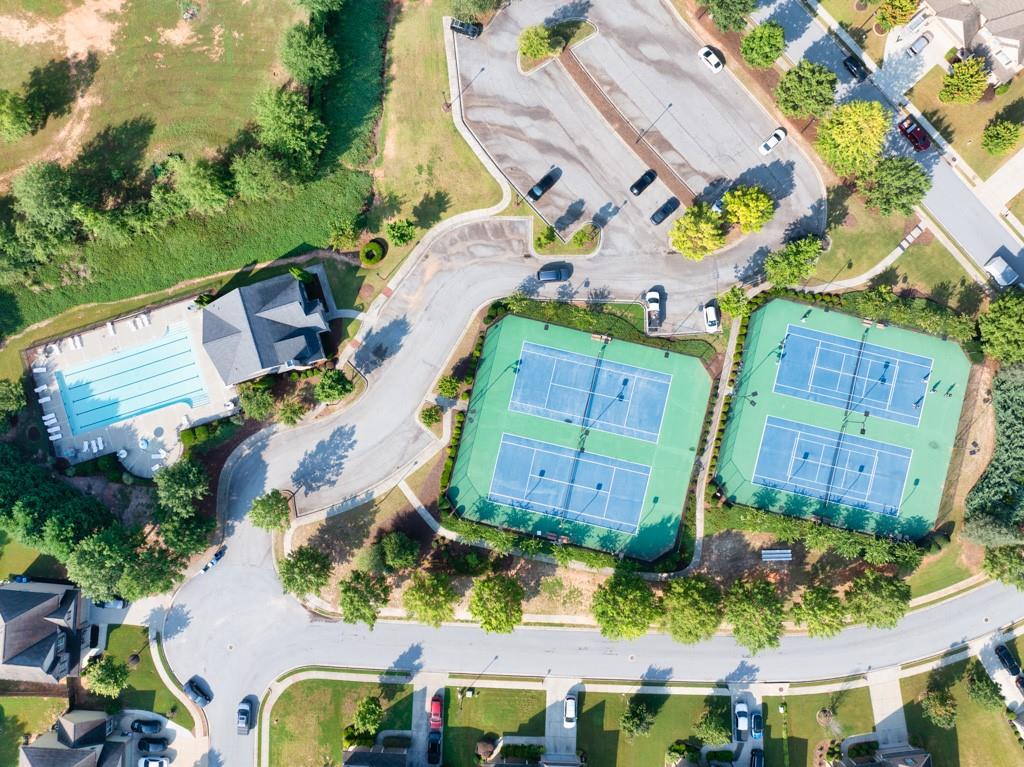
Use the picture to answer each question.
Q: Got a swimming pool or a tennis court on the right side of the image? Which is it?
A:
tennis court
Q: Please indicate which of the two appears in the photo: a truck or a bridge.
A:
truck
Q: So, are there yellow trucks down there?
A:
No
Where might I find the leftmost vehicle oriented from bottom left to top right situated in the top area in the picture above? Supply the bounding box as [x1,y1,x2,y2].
[529,172,556,200]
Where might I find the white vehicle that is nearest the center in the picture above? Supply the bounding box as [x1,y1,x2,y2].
[646,292,661,330]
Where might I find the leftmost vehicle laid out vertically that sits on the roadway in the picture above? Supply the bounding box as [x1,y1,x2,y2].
[236,696,252,733]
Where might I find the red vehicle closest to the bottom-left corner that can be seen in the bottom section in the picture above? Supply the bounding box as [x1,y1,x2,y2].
[429,695,443,727]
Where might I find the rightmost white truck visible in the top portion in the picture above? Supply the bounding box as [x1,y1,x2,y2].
[981,251,1018,287]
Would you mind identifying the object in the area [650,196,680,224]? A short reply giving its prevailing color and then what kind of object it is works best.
blue car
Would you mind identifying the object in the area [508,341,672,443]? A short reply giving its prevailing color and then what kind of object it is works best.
blue tennis court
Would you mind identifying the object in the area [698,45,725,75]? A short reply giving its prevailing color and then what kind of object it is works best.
white car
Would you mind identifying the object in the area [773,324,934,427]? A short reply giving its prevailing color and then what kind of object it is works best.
blue tennis court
